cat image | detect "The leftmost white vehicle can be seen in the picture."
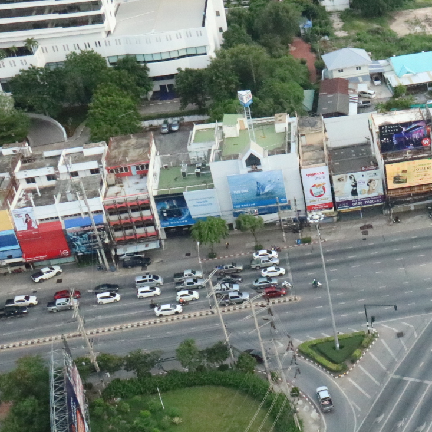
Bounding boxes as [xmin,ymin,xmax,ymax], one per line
[3,293,39,308]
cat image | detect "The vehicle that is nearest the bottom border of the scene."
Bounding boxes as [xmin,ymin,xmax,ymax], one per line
[316,387,334,415]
